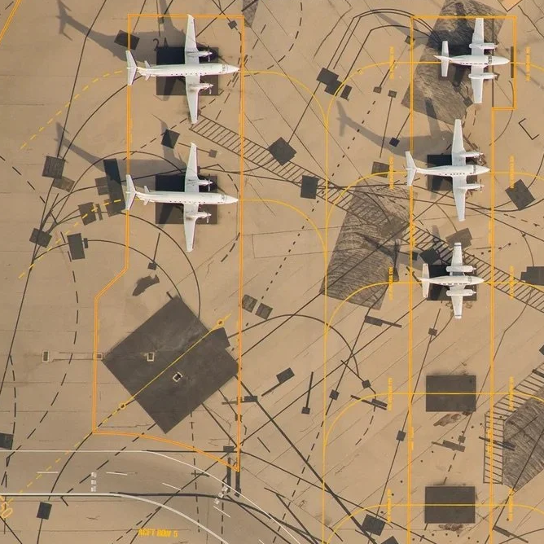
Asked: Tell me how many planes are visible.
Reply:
5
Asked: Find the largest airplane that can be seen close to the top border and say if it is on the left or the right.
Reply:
left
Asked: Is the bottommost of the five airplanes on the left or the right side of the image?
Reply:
right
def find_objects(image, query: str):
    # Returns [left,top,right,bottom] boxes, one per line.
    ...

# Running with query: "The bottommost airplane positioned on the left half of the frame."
[120,143,237,249]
